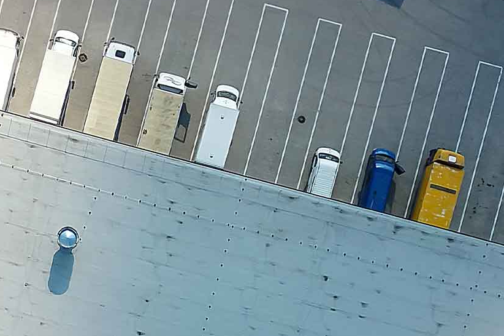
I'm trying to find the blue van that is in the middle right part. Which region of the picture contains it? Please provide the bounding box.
[358,146,407,204]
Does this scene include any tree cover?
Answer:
No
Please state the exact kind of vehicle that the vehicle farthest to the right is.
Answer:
truck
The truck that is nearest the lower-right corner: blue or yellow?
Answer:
yellow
